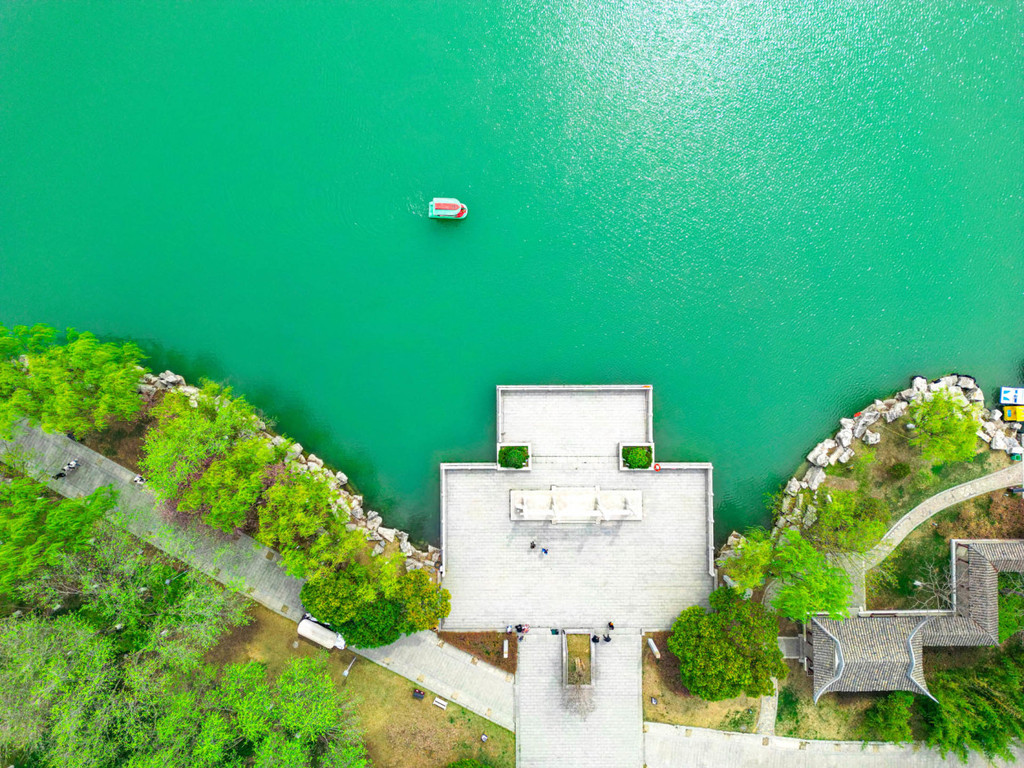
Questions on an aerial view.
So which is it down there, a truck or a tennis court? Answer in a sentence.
It is a truck that can be seen here.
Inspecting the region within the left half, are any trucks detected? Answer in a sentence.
Yes, within the left half there is a truck.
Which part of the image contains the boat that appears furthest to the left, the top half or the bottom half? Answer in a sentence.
The boat that appears furthest to the left is in the top half of the image.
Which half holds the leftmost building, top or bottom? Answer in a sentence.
It is in the bottom half that the leftmost building appears.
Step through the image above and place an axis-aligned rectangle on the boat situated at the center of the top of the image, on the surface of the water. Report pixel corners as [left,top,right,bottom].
[428,198,468,218]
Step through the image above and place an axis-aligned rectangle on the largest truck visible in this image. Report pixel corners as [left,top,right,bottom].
[296,621,348,656]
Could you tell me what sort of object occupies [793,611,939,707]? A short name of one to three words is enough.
building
